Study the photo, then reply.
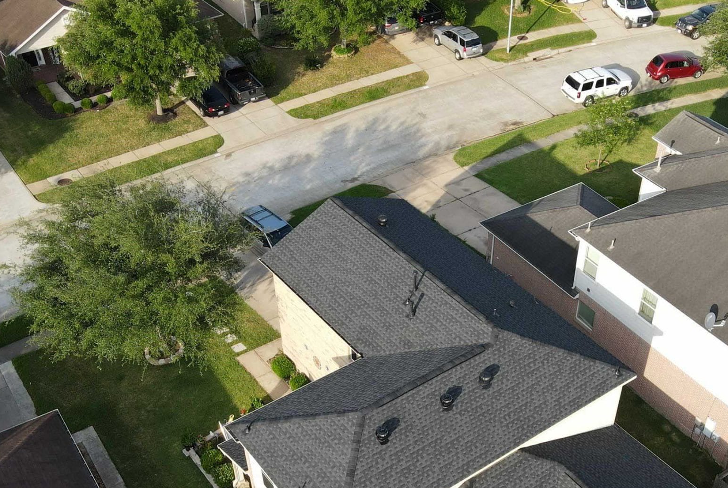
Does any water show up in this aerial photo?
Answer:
No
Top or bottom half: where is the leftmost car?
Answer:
top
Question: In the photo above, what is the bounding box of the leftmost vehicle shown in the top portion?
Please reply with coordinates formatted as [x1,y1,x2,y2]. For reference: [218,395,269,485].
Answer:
[174,72,226,112]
